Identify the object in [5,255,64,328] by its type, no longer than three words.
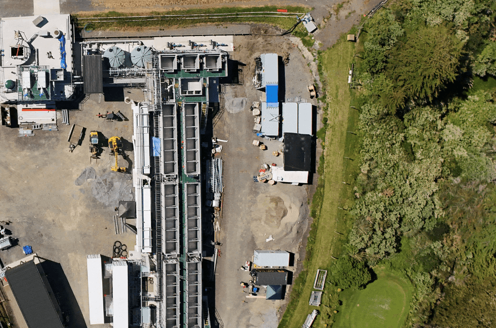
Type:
shed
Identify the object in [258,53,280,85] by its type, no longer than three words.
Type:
building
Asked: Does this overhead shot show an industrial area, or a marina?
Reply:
industrial area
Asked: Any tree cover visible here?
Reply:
Yes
